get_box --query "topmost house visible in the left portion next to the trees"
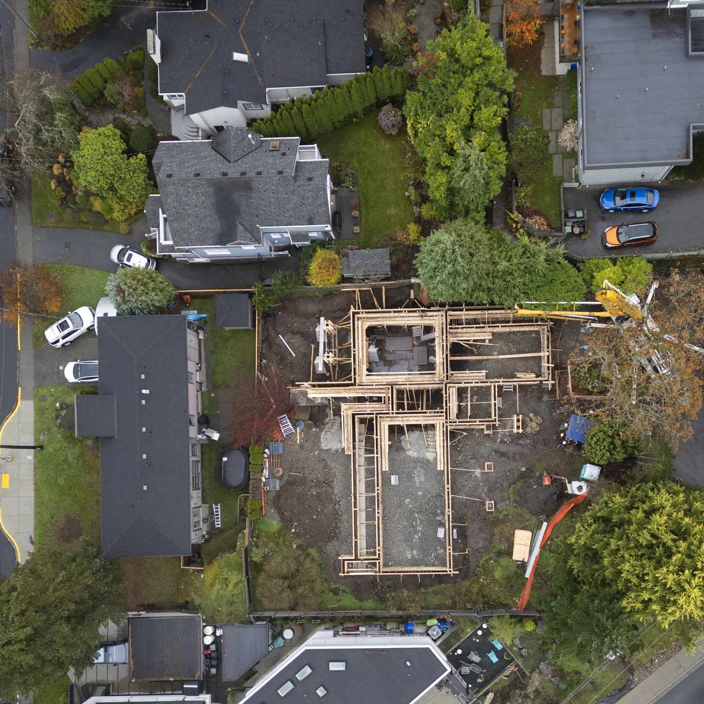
[147,0,365,143]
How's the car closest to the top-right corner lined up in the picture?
horizontally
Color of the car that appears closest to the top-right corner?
blue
